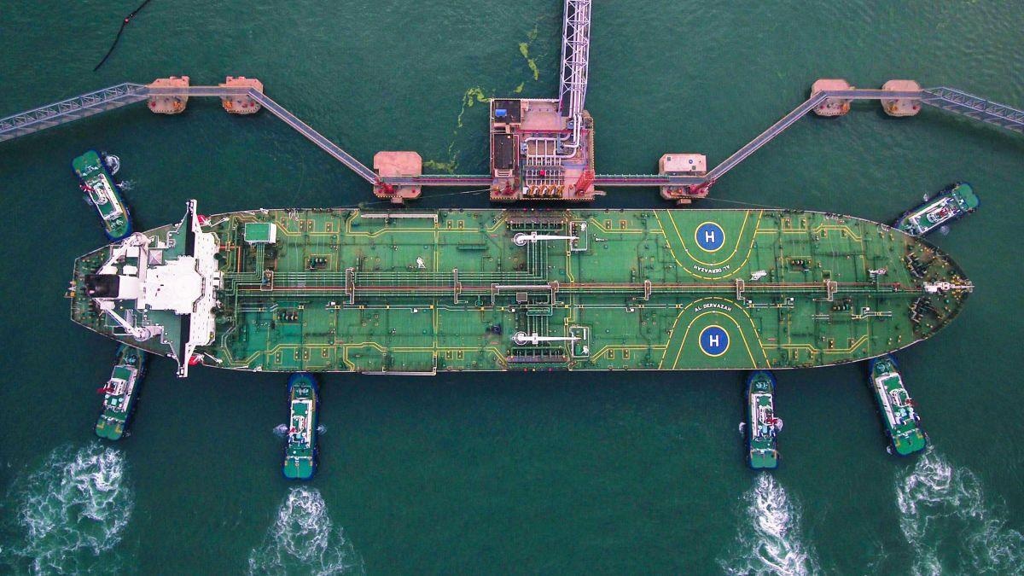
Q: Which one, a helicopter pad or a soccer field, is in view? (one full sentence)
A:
The image shows a helicopter pad.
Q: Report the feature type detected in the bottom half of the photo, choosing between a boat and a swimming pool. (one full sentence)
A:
There is a boat in the bottom half of the photo.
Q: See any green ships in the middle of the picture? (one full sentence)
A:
Yes, a green ship is visible in the middle of the picture.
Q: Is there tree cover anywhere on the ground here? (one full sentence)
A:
No, there's no tree cover in this view.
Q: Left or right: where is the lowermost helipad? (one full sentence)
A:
It is on the right.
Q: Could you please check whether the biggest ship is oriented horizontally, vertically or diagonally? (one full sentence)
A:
The biggest ship is laid out horizontally.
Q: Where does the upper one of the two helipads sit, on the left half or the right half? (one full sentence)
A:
The upper one of the two helipads is on the right side of the image.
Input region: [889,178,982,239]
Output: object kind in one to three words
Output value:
boat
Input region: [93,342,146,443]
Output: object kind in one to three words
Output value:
boat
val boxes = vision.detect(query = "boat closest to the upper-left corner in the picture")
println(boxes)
[68,148,135,245]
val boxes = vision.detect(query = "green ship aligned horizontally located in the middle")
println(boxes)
[63,200,976,377]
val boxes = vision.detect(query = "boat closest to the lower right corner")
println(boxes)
[871,354,925,456]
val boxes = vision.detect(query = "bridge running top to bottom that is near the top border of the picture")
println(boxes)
[558,0,591,110]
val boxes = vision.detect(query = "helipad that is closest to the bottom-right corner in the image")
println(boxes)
[659,297,770,368]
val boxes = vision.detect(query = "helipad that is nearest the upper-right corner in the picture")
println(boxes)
[654,210,763,279]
